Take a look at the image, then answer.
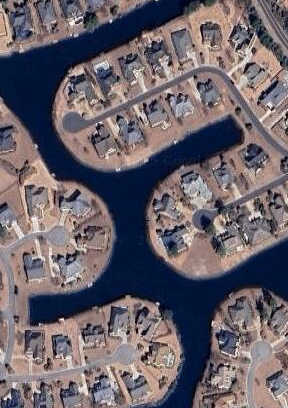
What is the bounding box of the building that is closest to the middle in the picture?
[152,190,183,221]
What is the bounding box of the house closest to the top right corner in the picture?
[226,27,255,56]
